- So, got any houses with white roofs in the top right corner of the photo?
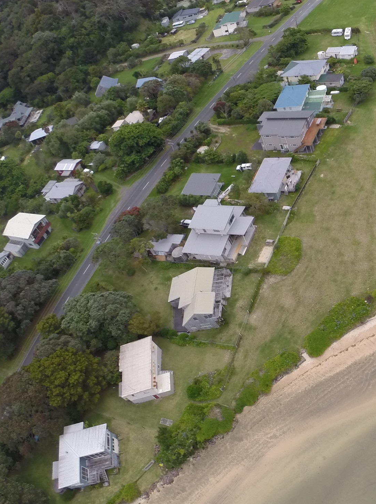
Yes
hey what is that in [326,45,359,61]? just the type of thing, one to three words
house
